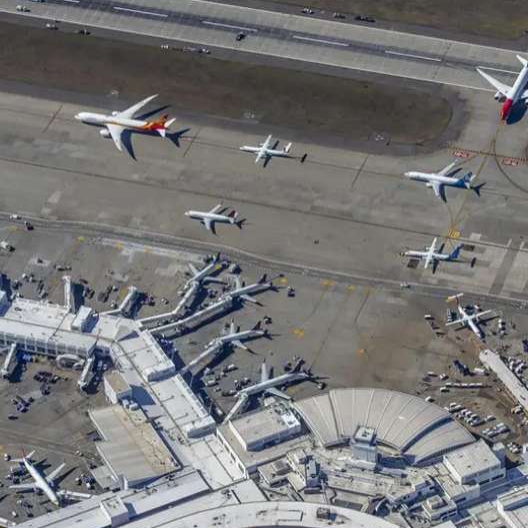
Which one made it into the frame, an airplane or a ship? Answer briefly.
airplane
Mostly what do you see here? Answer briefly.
paved ground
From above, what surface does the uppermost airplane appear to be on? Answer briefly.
apron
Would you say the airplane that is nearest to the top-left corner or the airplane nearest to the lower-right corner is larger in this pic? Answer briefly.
the airplane that is nearest to the top-left corner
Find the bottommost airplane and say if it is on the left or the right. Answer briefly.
left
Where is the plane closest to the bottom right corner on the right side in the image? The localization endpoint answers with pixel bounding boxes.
[445,294,492,338]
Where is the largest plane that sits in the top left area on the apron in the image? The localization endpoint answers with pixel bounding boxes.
[78,96,180,151]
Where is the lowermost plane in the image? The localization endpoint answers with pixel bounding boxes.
[6,448,67,507]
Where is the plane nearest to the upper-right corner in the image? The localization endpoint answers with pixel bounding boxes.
[476,56,528,120]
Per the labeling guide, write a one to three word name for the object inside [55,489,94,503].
jet bridge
